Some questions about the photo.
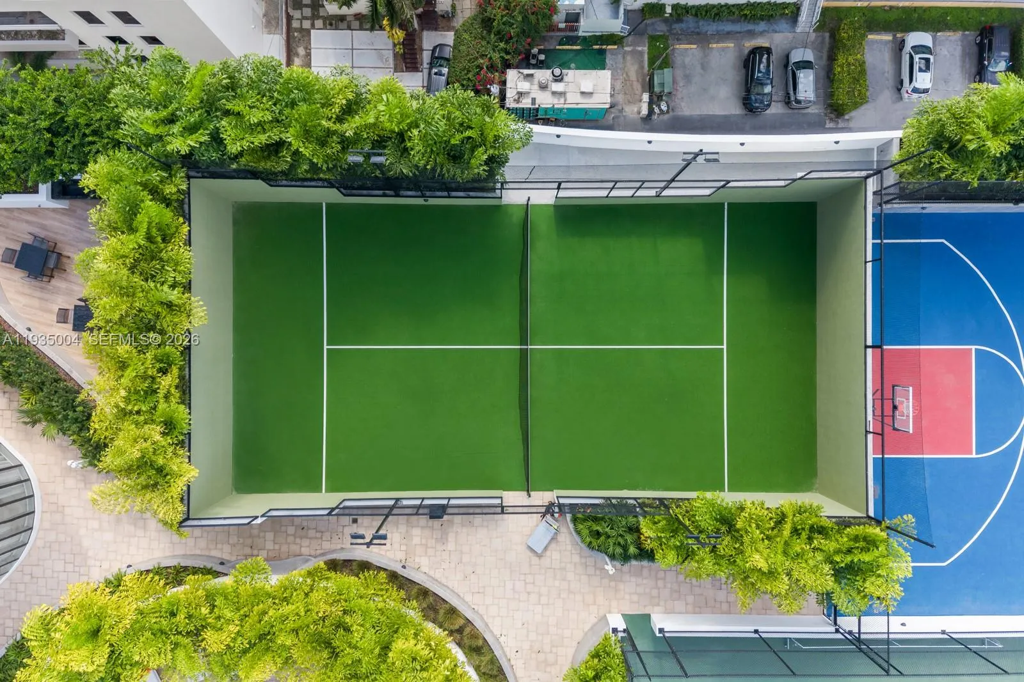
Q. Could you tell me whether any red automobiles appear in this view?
No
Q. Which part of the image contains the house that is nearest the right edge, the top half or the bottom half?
top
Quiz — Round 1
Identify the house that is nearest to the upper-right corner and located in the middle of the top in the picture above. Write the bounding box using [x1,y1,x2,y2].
[577,0,632,34]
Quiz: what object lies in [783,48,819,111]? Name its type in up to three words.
car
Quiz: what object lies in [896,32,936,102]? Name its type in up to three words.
car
